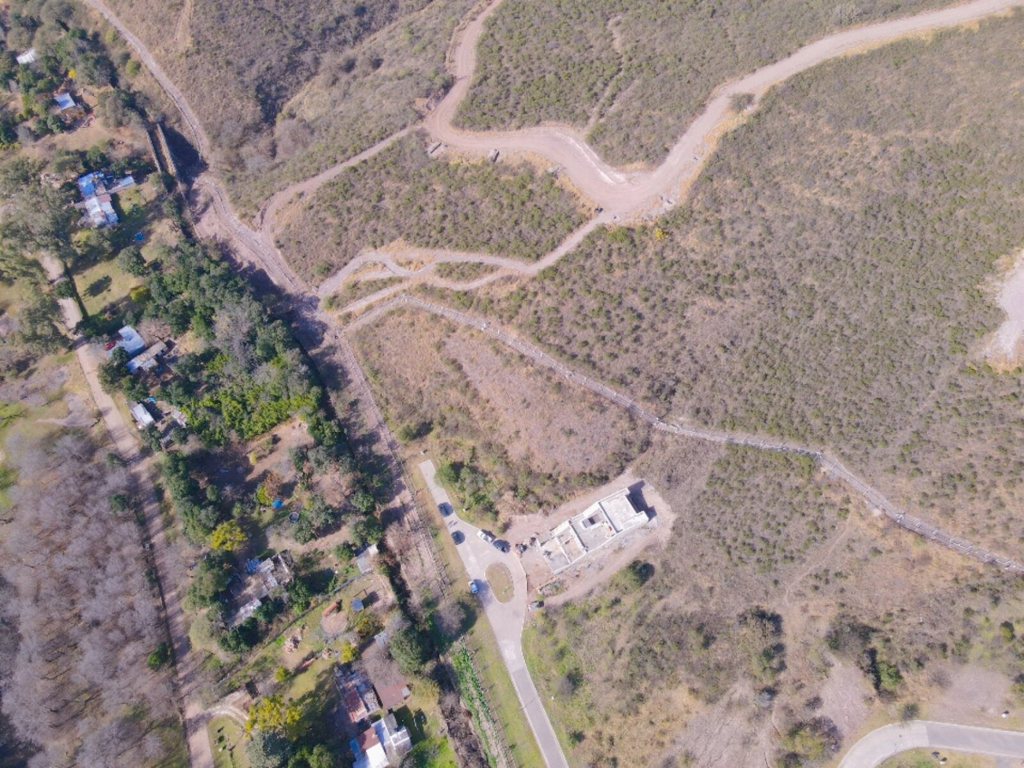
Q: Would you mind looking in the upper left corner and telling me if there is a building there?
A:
Yes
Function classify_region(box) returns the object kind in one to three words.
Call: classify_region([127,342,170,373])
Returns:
shed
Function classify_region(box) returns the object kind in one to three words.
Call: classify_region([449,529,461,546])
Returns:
vehicle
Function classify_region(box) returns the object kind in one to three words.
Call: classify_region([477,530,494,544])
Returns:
vehicle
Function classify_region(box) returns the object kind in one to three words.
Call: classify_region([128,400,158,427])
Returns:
house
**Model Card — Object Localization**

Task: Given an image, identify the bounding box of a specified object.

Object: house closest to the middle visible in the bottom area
[536,485,648,574]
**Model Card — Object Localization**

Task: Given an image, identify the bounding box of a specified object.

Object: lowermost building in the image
[349,710,411,768]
